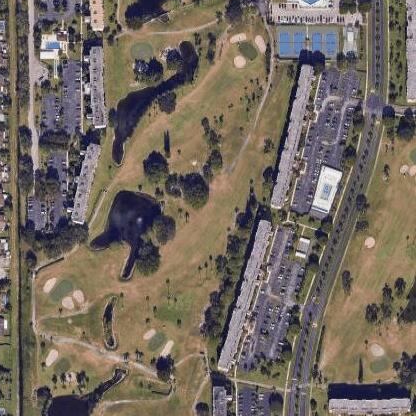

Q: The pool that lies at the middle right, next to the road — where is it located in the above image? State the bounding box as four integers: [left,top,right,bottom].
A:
[312,165,343,213]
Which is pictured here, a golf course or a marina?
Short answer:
golf course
